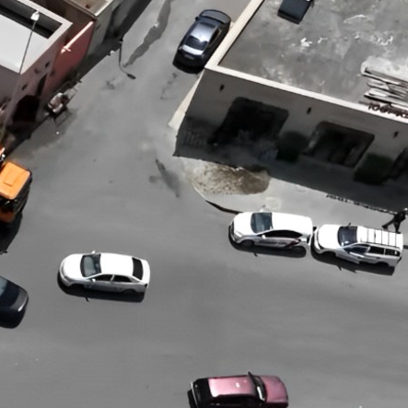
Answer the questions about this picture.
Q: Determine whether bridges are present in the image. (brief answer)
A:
No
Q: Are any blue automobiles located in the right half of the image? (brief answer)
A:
No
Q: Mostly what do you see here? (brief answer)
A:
paved ground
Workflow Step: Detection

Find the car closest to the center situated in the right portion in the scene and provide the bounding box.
[229,208,312,256]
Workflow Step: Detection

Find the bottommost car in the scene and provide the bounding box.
[190,368,289,408]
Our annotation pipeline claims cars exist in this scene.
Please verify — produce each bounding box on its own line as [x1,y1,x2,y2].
[173,9,228,71]
[229,208,312,256]
[313,221,402,270]
[190,368,289,408]
[58,248,149,297]
[0,276,30,323]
